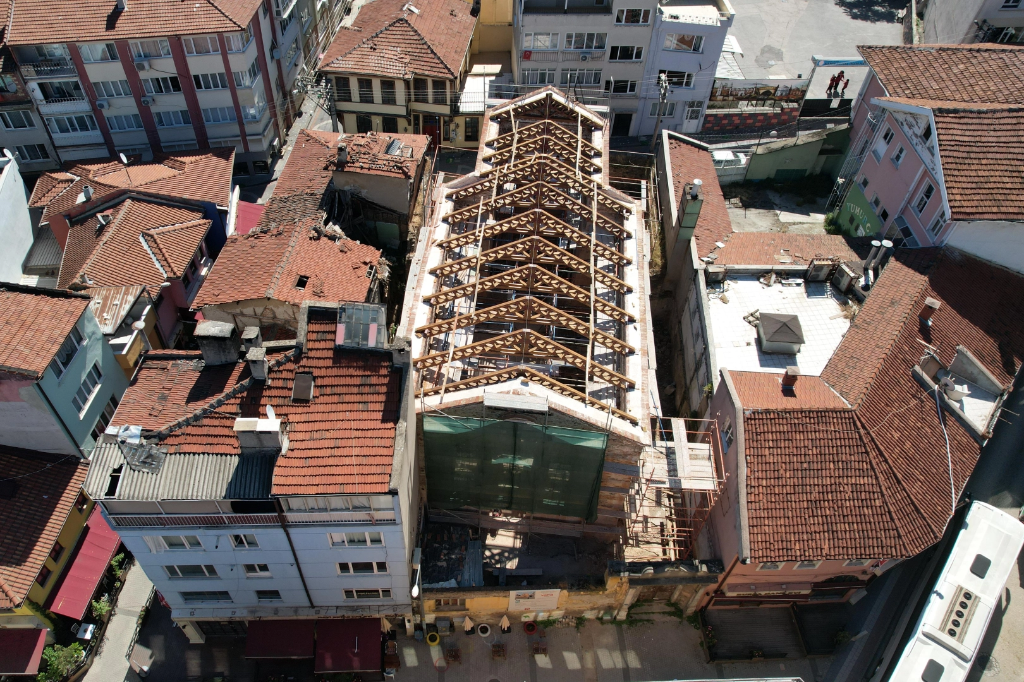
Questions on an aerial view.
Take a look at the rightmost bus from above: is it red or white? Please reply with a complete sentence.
From above, the rightmost bus appears white.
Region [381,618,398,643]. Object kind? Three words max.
umbrella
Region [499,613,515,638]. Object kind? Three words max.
umbrella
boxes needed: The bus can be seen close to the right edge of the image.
[863,502,1023,682]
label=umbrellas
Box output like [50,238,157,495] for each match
[381,618,398,643]
[463,614,478,639]
[499,613,515,638]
